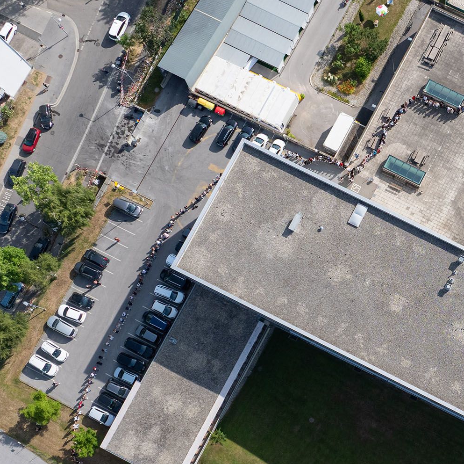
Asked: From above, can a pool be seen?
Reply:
No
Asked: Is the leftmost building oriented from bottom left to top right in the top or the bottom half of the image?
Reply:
top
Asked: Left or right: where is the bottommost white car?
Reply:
left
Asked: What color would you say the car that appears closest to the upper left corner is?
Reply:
white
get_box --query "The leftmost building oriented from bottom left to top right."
[159,0,254,92]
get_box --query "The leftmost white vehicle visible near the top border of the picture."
[0,21,20,44]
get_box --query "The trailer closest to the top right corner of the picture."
[323,113,355,158]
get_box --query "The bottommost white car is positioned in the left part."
[85,404,113,428]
